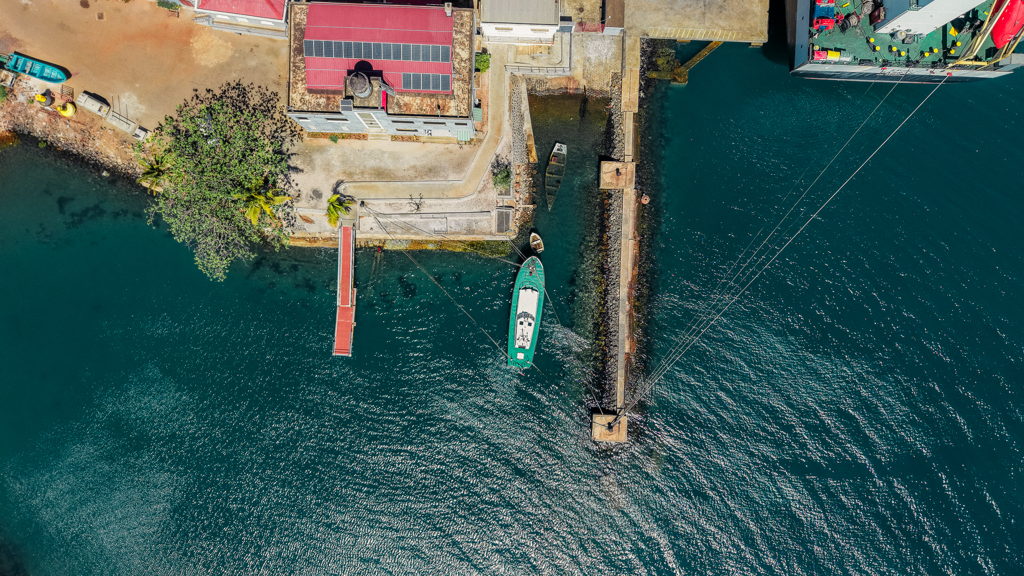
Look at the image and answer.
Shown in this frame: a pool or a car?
car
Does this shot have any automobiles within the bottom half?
No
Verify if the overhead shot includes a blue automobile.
No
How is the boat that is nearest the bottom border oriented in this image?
from top to bottom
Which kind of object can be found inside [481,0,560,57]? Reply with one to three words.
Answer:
building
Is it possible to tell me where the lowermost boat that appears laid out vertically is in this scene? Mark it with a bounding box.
[507,256,545,370]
